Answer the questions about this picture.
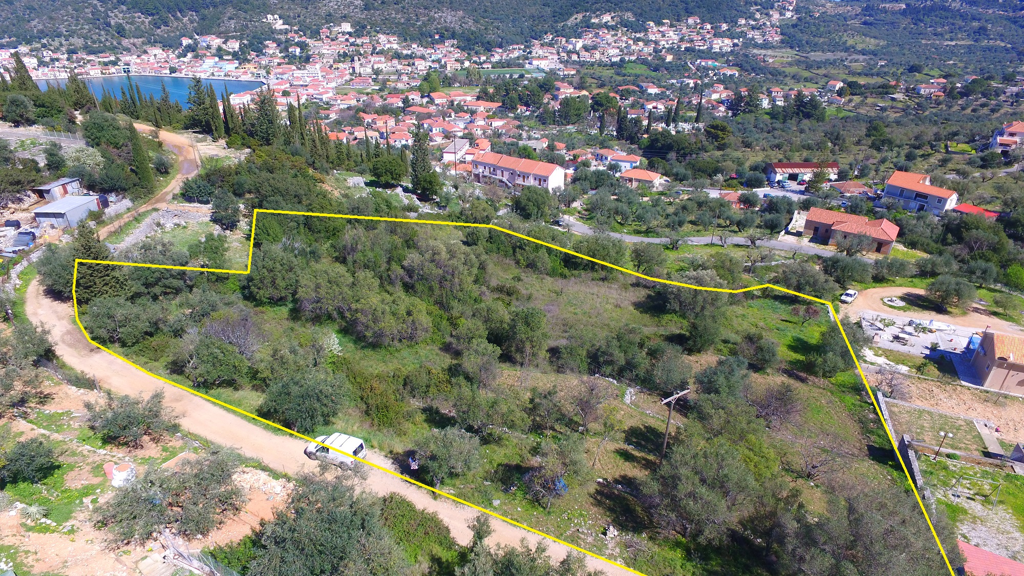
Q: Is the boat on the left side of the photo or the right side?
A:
right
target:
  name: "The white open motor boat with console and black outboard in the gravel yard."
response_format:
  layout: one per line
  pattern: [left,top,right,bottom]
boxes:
[908,313,961,334]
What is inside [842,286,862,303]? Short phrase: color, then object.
white car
